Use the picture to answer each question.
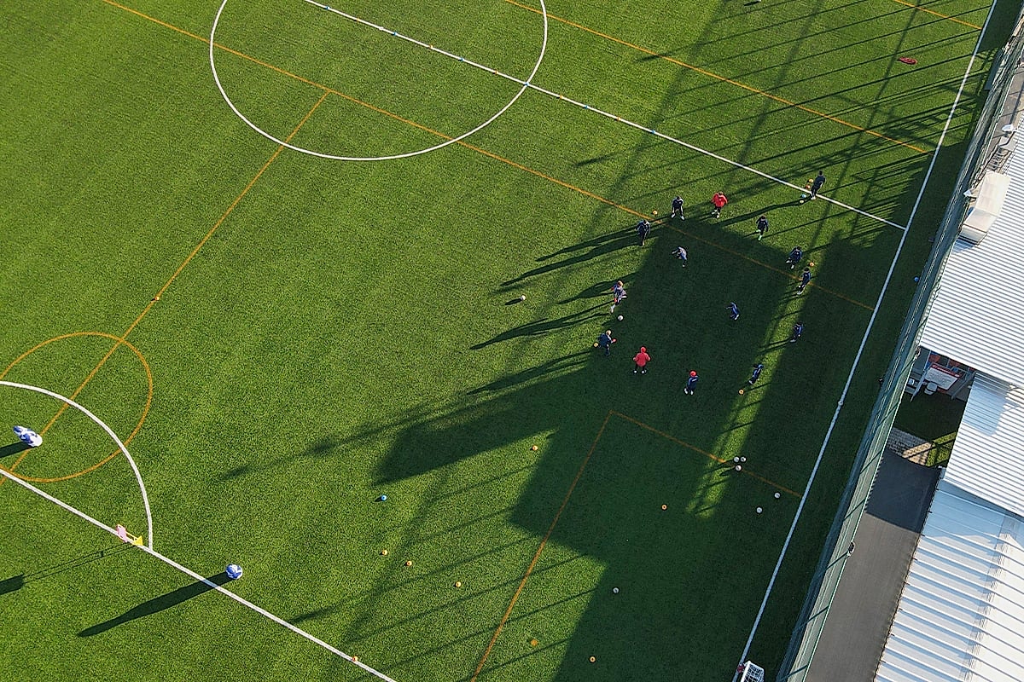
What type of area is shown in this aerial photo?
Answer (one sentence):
What you see here is a sports ground.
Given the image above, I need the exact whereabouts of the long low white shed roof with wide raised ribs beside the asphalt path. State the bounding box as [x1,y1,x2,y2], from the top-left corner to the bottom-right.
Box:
[877,489,1024,682]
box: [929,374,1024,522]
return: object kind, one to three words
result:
shed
